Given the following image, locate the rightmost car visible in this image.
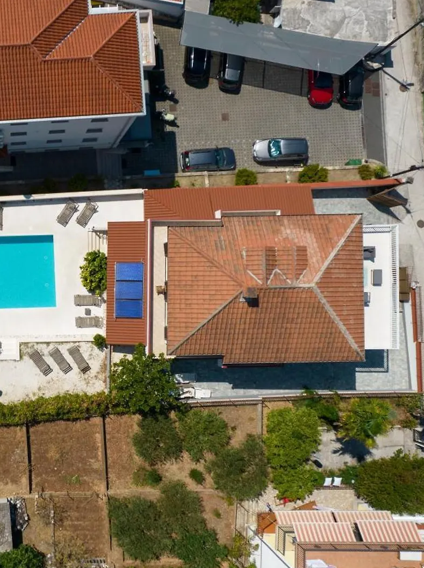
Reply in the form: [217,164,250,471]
[333,60,367,118]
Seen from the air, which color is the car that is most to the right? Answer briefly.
black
